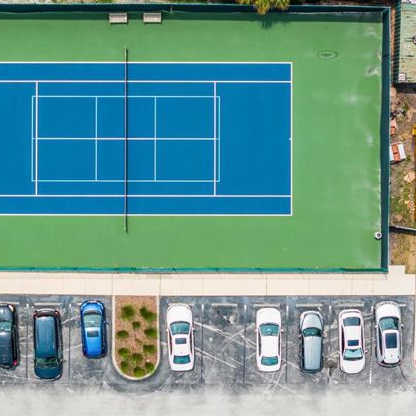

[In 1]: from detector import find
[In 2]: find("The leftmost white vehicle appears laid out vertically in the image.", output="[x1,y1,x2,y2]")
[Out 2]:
[165,303,196,371]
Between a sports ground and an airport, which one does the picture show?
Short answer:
sports ground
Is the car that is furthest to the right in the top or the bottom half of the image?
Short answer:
bottom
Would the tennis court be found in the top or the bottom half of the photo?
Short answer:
top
